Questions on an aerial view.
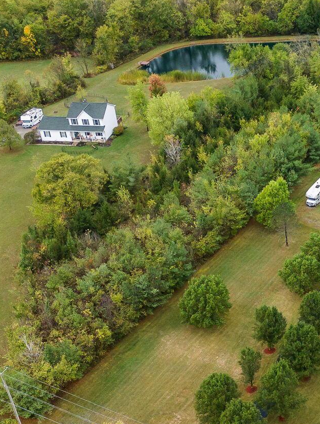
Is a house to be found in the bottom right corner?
No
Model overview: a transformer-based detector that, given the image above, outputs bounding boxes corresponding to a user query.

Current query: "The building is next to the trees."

[38,102,125,143]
